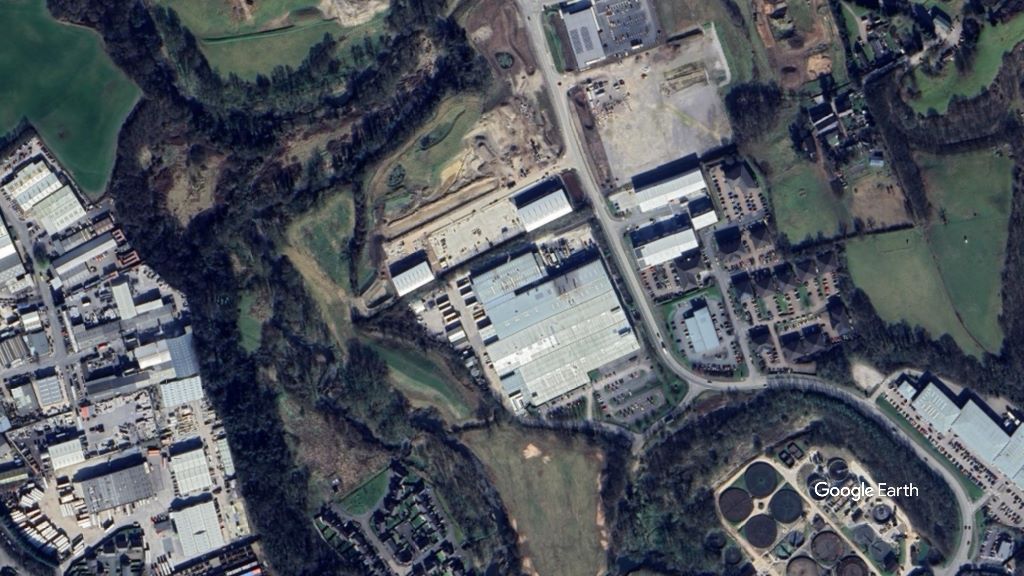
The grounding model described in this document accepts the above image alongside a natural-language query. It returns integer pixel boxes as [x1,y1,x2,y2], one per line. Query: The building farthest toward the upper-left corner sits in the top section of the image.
[5,160,62,212]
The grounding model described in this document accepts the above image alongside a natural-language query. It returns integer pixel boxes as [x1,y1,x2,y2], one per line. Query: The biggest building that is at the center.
[473,252,639,417]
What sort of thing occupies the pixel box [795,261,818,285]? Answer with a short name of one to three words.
building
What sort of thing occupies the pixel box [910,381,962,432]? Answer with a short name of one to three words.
building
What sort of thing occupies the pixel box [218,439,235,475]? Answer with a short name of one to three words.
shed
